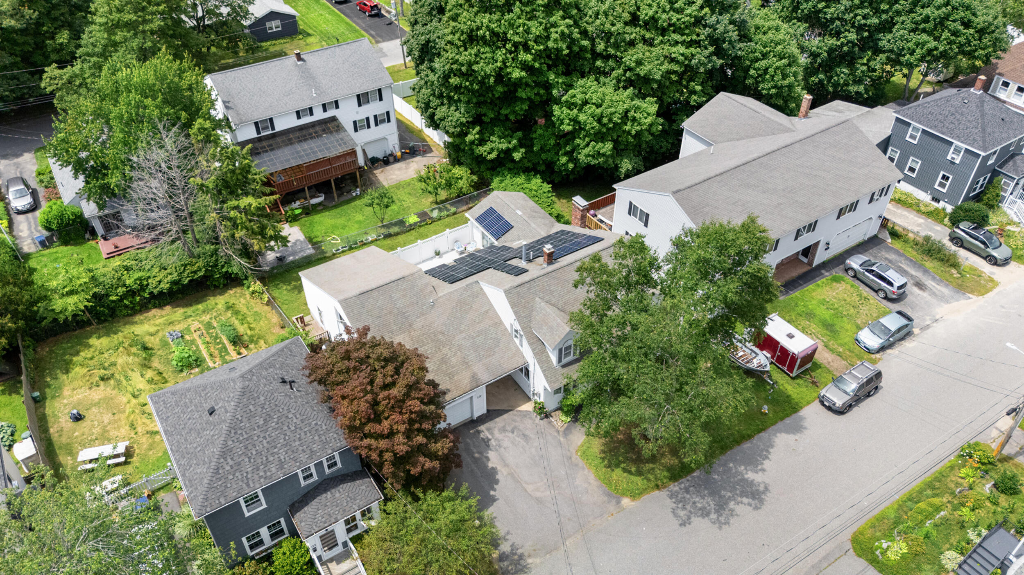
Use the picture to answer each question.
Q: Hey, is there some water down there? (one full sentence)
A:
No, the scene doesn't show any water.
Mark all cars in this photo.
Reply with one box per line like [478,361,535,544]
[357,0,378,15]
[847,259,914,302]
[854,310,920,352]
[816,358,888,415]
[4,172,37,210]
[946,223,1017,263]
